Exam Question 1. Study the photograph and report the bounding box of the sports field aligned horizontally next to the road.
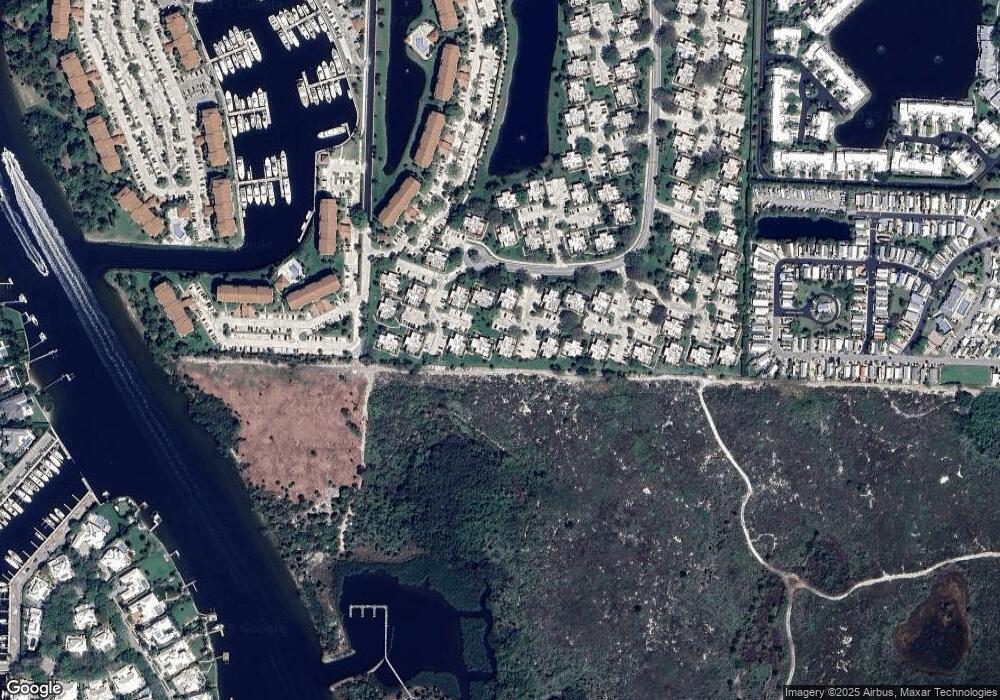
[940,365,991,386]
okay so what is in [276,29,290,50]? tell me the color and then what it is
white boat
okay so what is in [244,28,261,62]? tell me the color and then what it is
white boat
